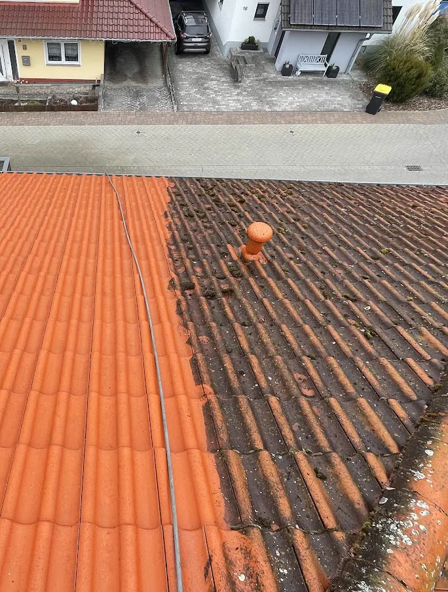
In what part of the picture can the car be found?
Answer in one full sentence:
The car sits in the top section of the image.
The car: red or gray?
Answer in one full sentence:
The car is gray.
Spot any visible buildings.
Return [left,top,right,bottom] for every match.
[0,0,182,89]
[0,171,448,592]
[203,0,448,77]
